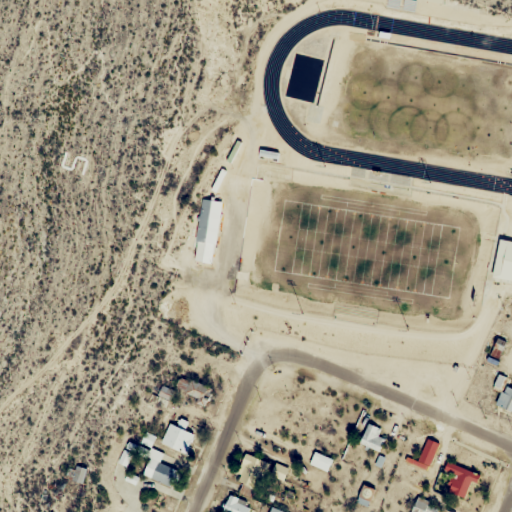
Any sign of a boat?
No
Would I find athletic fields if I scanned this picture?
Yes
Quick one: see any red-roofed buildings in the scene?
Yes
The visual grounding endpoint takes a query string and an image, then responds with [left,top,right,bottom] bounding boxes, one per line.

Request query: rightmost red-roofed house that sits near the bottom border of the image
[446,464,480,499]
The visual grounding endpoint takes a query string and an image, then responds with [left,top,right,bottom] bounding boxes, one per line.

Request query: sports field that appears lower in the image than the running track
[249,181,484,322]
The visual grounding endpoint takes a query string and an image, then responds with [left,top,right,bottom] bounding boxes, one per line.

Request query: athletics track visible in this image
[264,10,512,194]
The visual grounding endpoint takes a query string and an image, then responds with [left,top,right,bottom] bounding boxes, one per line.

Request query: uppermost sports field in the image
[280,27,512,178]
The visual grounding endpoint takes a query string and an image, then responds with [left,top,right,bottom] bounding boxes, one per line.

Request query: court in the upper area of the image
[286,54,324,102]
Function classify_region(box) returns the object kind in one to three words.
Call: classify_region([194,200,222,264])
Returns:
building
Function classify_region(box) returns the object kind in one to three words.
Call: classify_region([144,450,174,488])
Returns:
house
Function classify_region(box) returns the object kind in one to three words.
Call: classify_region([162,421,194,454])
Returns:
house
